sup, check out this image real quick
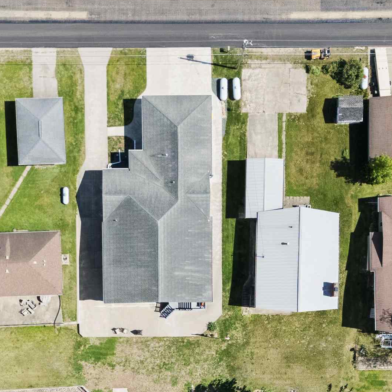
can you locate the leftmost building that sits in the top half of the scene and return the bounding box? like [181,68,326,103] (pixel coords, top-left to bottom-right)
[14,96,67,167]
